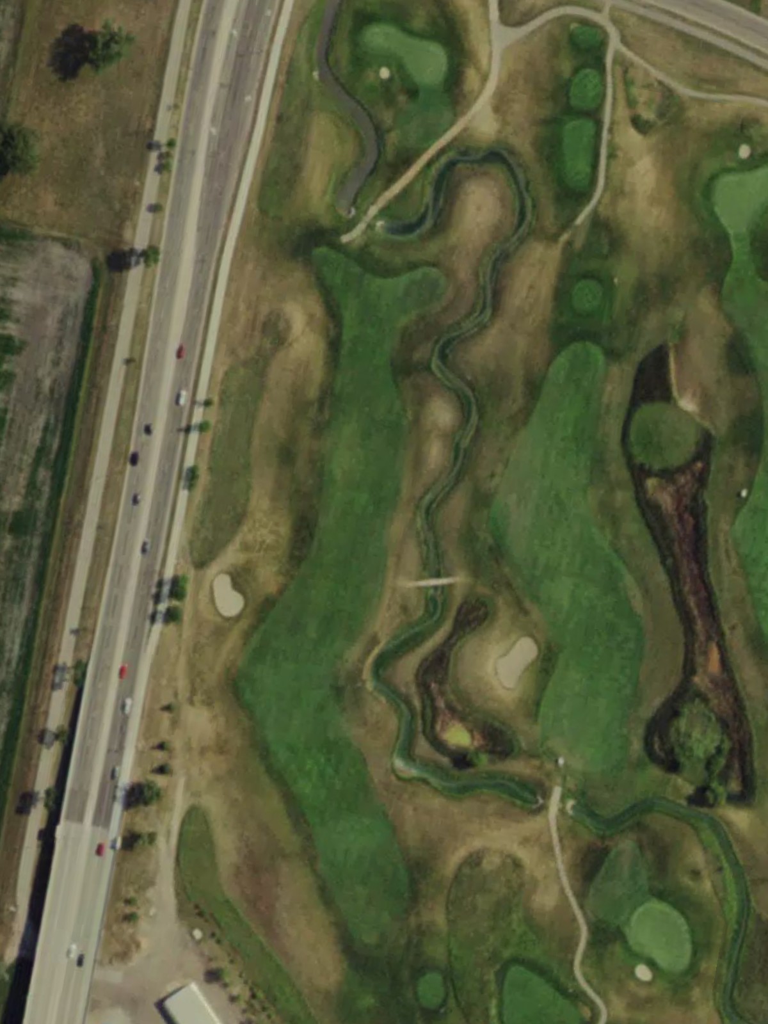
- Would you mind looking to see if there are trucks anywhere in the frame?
No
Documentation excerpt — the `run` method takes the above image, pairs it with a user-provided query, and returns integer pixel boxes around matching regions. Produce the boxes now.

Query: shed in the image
[164,981,224,1024]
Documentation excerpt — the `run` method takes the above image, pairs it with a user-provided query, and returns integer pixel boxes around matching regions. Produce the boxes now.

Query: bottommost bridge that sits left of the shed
[23,822,121,1024]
